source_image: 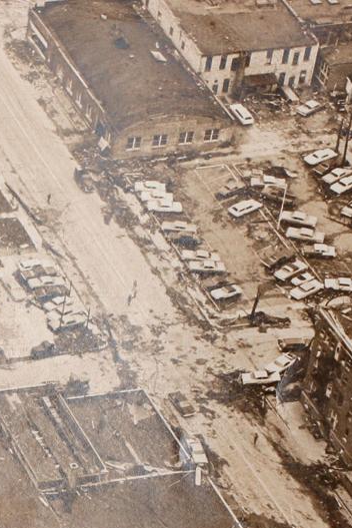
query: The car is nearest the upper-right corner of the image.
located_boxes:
[294,97,324,115]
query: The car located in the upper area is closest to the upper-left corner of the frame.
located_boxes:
[74,170,92,192]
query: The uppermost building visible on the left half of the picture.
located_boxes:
[21,0,242,159]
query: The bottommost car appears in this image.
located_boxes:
[186,437,208,465]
